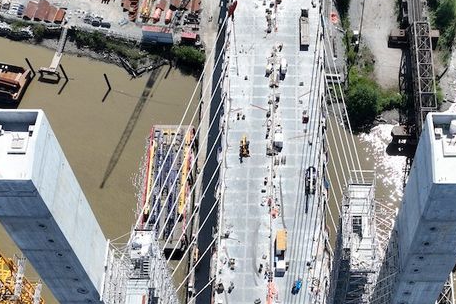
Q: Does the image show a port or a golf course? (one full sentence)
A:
This looks like a port.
